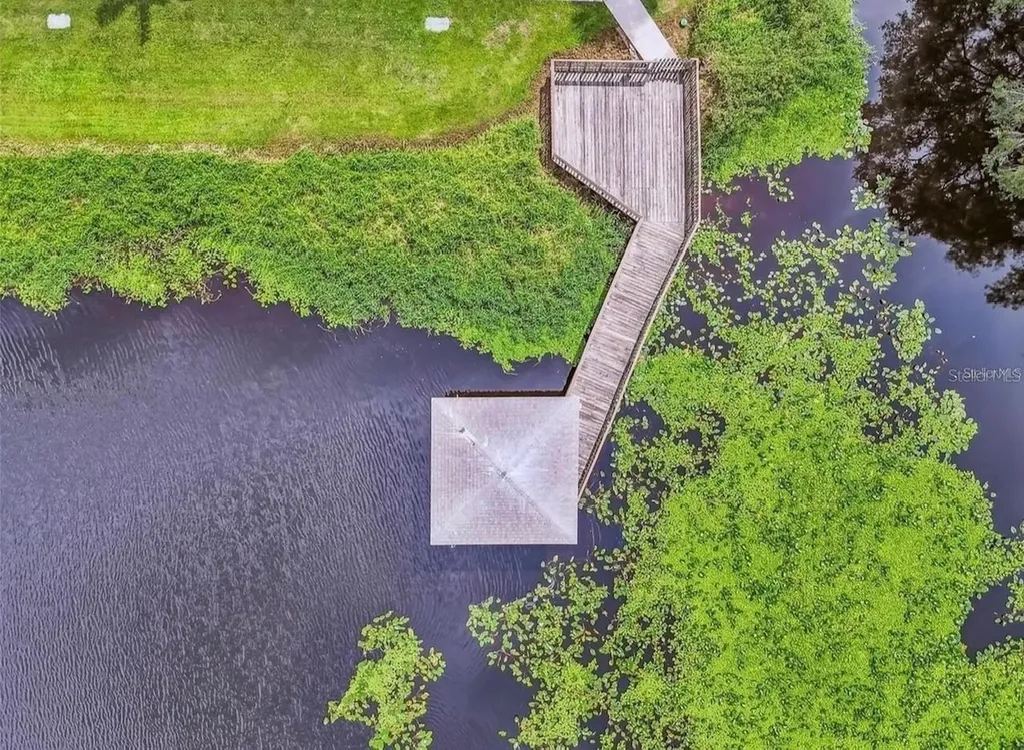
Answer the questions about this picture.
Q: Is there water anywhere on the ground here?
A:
Yes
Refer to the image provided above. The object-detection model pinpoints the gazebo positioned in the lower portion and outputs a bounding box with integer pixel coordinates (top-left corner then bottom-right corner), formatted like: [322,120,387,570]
[431,396,580,546]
